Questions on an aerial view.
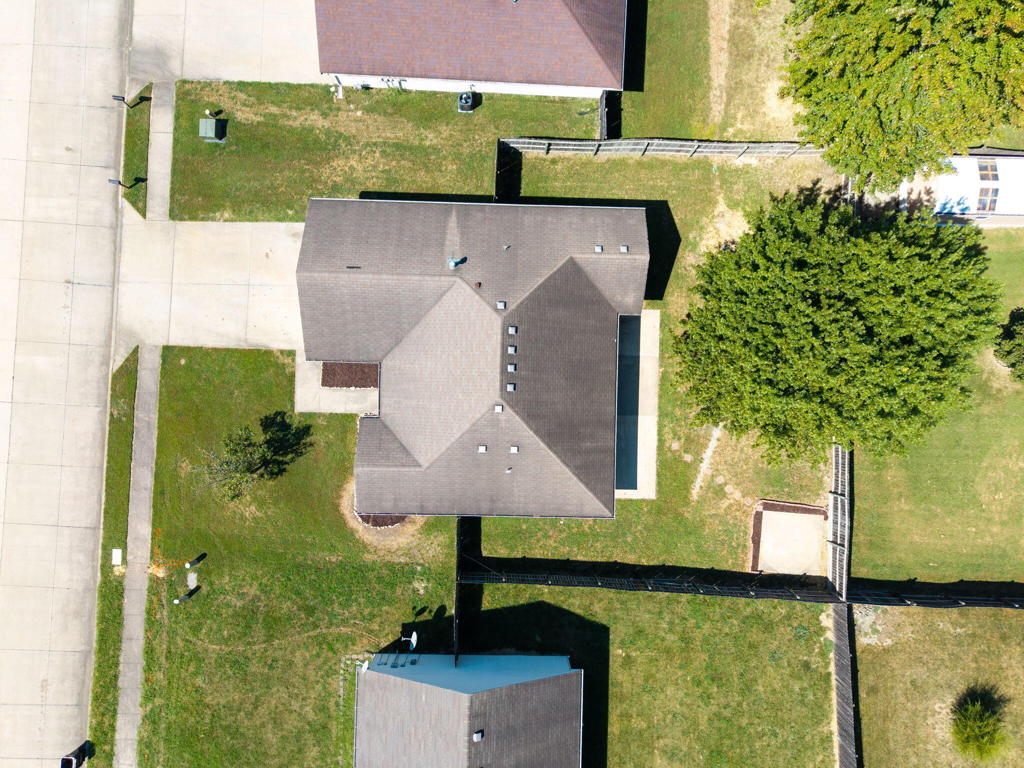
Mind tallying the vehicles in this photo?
zero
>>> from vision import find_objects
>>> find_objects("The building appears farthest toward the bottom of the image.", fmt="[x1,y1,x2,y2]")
[353,651,583,768]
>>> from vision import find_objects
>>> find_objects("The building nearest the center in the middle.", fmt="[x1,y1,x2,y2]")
[296,199,649,519]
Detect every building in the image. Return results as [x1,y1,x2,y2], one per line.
[900,157,1024,227]
[353,651,583,768]
[315,0,627,98]
[296,199,649,519]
